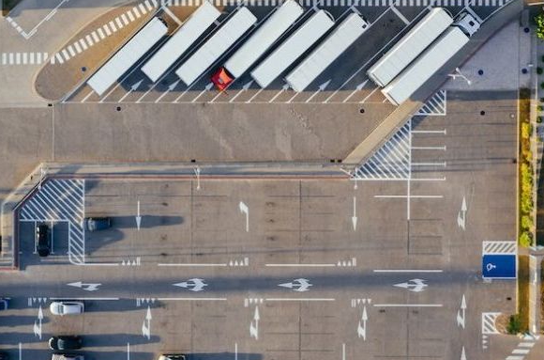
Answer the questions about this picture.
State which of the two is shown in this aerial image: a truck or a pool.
truck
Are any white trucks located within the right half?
Yes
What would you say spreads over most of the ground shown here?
paved ground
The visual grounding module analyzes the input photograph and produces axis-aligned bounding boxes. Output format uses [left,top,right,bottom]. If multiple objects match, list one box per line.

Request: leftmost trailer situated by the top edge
[88,18,166,95]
